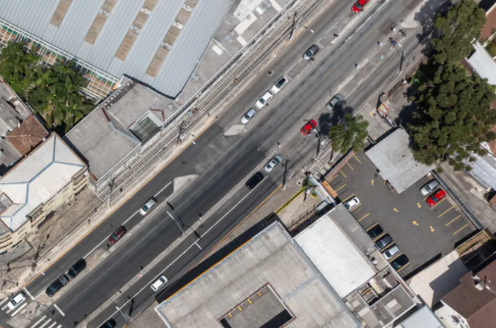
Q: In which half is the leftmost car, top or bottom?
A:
bottom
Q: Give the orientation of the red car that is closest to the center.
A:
on a diagonal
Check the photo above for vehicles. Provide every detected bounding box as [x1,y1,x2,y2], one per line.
[237,106,259,127]
[150,274,169,293]
[101,317,119,328]
[365,222,387,241]
[5,290,29,312]
[351,0,369,13]
[374,233,394,250]
[243,169,265,191]
[45,274,70,297]
[311,199,332,216]
[270,74,291,95]
[343,195,362,211]
[137,195,161,216]
[416,179,438,198]
[424,189,446,208]
[299,117,320,137]
[108,225,128,244]
[381,244,401,260]
[389,254,411,271]
[252,89,275,109]
[300,43,322,62]
[64,257,88,279]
